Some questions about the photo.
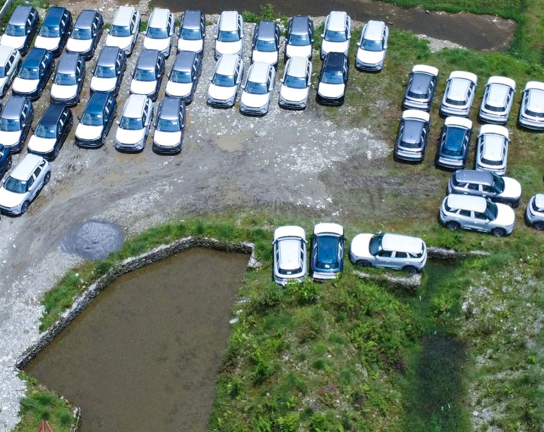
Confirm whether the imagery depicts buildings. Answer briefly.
No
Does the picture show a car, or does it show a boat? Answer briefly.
car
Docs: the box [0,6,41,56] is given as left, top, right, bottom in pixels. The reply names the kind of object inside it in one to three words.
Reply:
car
